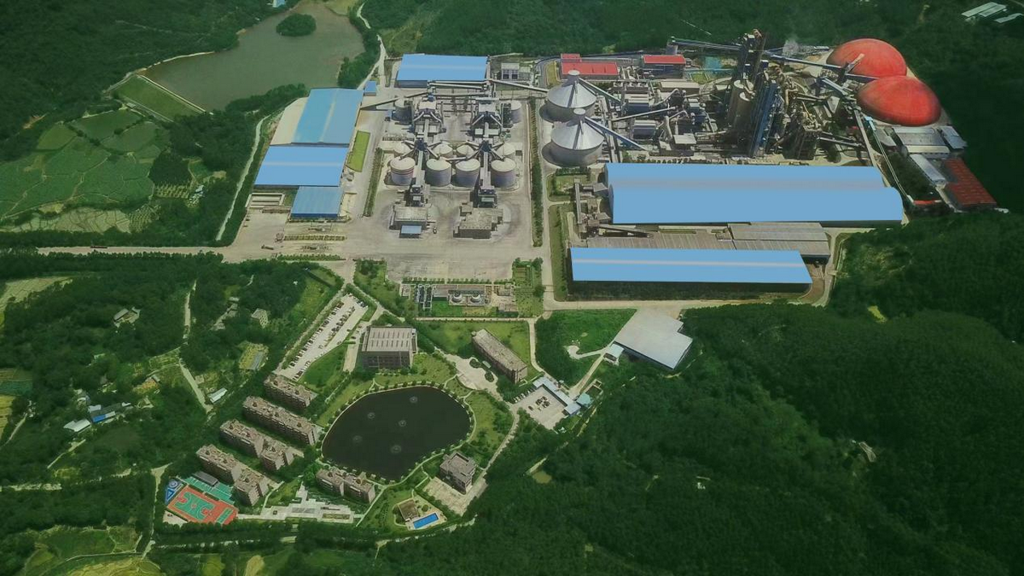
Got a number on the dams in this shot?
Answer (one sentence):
The count comes to 1 dam.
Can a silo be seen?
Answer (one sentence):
Yes, I can see a silo in this picture.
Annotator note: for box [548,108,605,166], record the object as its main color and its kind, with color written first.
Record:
gray silo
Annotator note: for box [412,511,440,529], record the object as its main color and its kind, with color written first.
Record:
blue swimming pool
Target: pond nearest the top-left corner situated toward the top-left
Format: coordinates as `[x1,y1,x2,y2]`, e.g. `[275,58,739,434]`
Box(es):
[134,0,364,114]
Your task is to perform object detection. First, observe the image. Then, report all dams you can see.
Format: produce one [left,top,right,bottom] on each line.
[116,73,211,121]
